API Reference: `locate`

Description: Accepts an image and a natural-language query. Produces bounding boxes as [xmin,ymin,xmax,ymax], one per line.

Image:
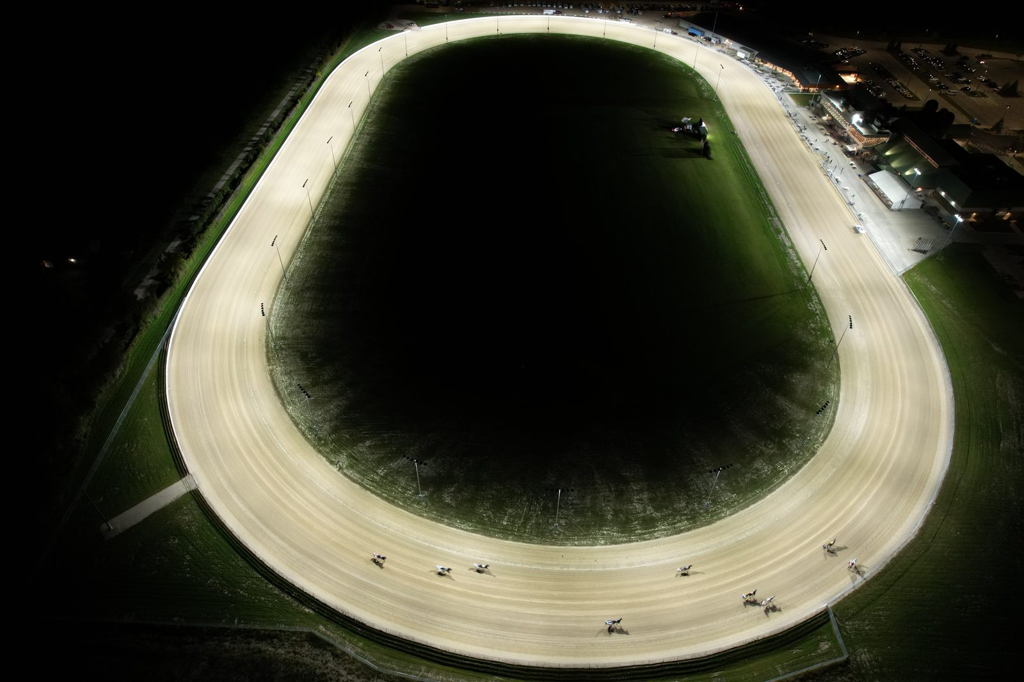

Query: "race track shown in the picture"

[166,15,955,669]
